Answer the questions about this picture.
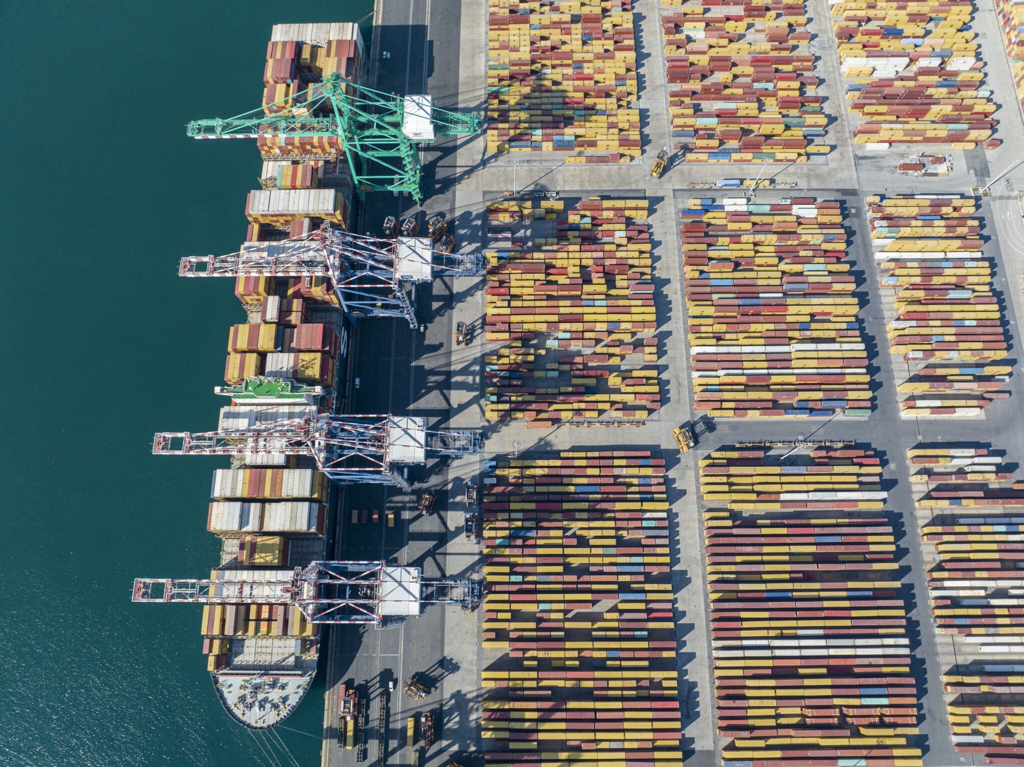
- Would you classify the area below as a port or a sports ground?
port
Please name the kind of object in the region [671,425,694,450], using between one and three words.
work vehicle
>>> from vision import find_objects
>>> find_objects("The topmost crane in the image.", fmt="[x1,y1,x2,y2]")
[184,65,484,203]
